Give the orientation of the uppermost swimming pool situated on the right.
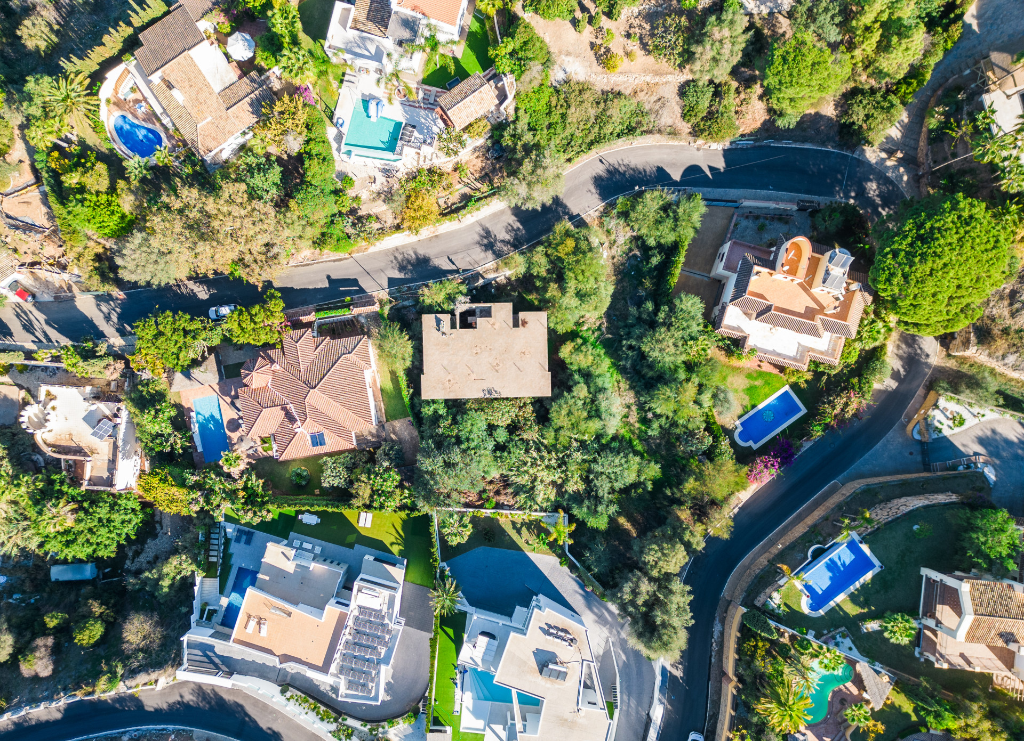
at an angle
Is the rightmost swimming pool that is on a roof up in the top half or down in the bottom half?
bottom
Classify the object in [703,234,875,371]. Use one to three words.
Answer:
house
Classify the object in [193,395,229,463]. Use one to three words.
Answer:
swimming pool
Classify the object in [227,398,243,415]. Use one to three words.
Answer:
umbrella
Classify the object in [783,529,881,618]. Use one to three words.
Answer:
swimming pool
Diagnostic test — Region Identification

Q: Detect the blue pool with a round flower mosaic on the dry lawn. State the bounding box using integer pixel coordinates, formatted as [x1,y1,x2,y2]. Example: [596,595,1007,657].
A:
[732,384,809,450]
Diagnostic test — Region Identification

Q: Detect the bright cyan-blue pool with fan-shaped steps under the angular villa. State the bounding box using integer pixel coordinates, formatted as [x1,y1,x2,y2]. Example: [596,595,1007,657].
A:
[461,664,539,705]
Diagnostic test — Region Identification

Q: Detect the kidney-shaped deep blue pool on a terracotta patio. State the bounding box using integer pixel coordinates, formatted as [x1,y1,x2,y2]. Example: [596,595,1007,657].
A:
[110,110,167,163]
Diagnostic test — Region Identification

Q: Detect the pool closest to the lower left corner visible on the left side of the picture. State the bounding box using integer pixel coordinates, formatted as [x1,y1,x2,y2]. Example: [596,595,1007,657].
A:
[221,567,258,631]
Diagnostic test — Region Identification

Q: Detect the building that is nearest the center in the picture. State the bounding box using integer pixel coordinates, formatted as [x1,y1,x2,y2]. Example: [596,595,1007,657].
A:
[421,303,551,399]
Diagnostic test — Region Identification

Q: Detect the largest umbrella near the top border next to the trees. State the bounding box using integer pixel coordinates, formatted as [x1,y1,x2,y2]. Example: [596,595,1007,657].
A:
[226,31,257,62]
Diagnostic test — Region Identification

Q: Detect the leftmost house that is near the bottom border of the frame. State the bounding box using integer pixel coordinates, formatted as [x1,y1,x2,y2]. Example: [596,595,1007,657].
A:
[230,532,413,705]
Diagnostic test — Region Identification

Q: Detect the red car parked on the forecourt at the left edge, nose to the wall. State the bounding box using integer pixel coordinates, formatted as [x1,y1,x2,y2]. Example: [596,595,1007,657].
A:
[8,282,36,304]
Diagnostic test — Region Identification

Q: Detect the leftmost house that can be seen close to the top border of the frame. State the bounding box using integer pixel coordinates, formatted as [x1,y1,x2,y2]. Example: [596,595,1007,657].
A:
[134,0,278,176]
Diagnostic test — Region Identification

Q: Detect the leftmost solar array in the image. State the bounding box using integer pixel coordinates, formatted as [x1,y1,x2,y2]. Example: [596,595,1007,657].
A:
[88,415,121,444]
